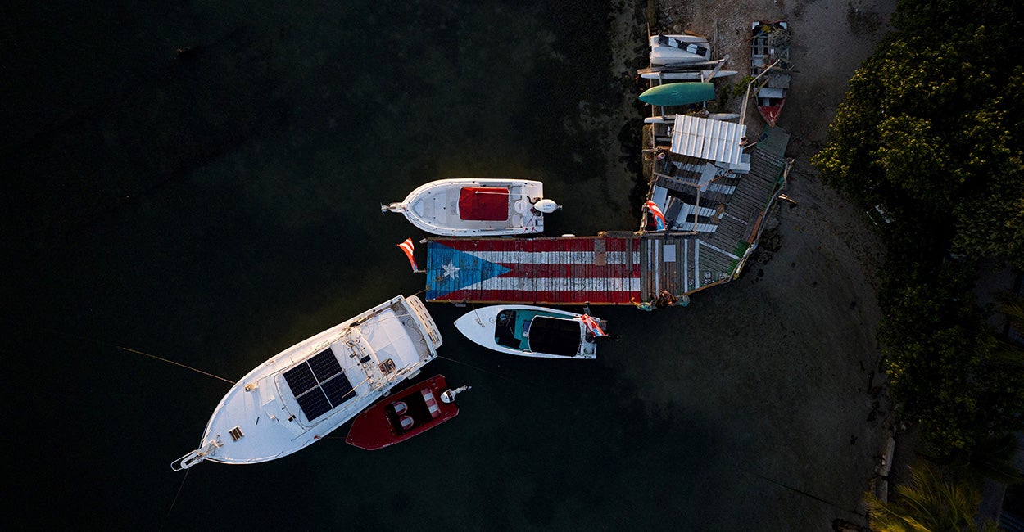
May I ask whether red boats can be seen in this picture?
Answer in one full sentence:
Yes, a red boat is visible in the scene.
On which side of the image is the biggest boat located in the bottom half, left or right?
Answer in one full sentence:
The biggest boat located in the bottom half is on the left side of the image.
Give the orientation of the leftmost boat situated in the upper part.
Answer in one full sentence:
In this picture, the leftmost boat situated in the upper part lies from left to right.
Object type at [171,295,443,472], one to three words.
boat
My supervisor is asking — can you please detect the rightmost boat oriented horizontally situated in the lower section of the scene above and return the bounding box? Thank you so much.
[454,305,619,359]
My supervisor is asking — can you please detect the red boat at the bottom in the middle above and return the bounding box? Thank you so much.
[346,374,471,451]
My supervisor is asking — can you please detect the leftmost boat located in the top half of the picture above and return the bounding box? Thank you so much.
[380,178,561,236]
